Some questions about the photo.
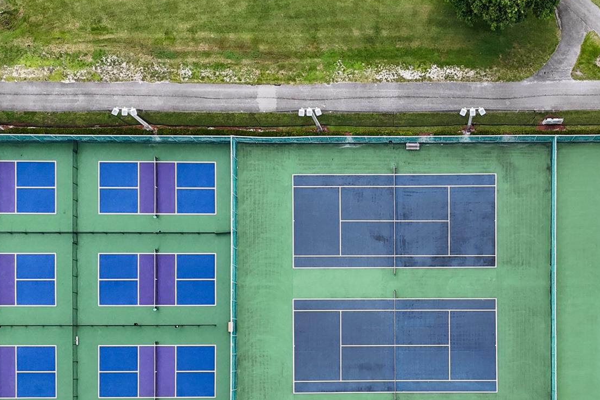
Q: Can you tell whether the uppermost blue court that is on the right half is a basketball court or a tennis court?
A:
tennis court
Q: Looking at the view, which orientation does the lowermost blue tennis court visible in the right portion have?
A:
from left to right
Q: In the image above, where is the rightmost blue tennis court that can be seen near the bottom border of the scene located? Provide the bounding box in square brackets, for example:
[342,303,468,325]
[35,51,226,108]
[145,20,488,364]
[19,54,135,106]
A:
[293,299,497,393]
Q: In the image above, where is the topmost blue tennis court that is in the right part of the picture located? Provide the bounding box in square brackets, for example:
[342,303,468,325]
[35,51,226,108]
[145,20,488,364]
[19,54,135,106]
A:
[293,174,496,268]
